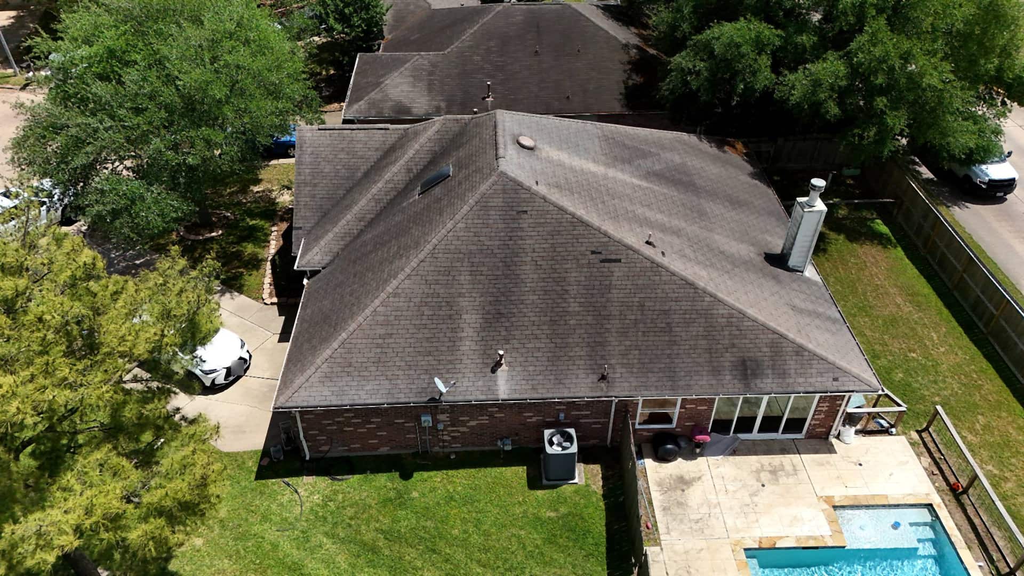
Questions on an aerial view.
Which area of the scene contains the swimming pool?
bottom right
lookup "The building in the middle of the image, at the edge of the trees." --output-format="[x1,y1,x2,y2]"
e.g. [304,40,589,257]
[269,106,885,464]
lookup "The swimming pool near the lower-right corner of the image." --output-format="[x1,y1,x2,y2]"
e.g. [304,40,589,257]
[745,503,971,576]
